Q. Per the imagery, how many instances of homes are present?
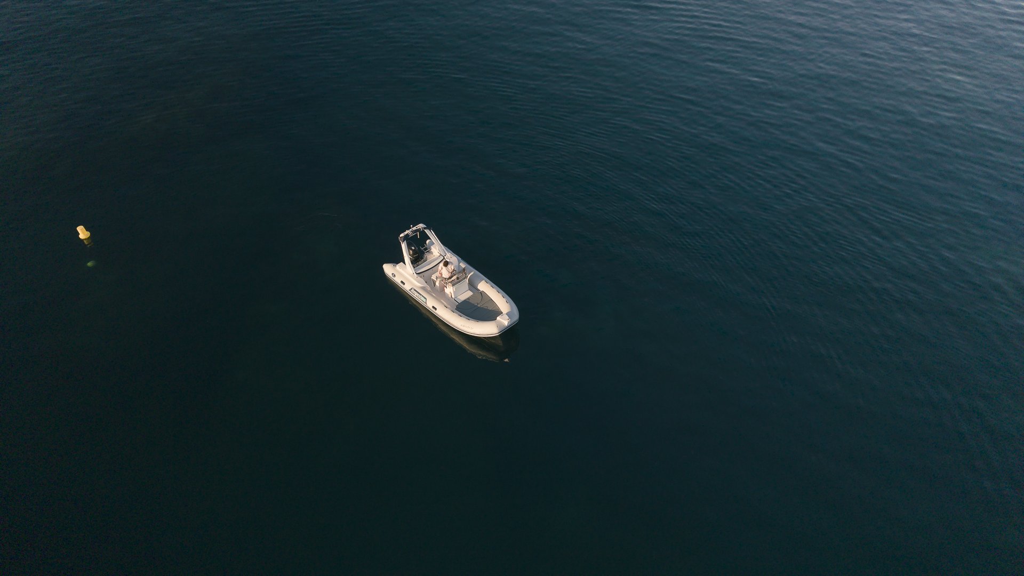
0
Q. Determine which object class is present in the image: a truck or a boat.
boat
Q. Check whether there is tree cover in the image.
No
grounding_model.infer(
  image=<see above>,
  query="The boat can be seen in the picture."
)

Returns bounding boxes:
[382,223,519,336]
